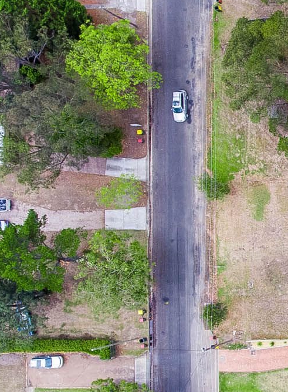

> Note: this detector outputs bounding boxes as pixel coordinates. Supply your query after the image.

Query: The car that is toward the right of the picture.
[168,89,187,123]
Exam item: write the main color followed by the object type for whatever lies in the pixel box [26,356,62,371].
white car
